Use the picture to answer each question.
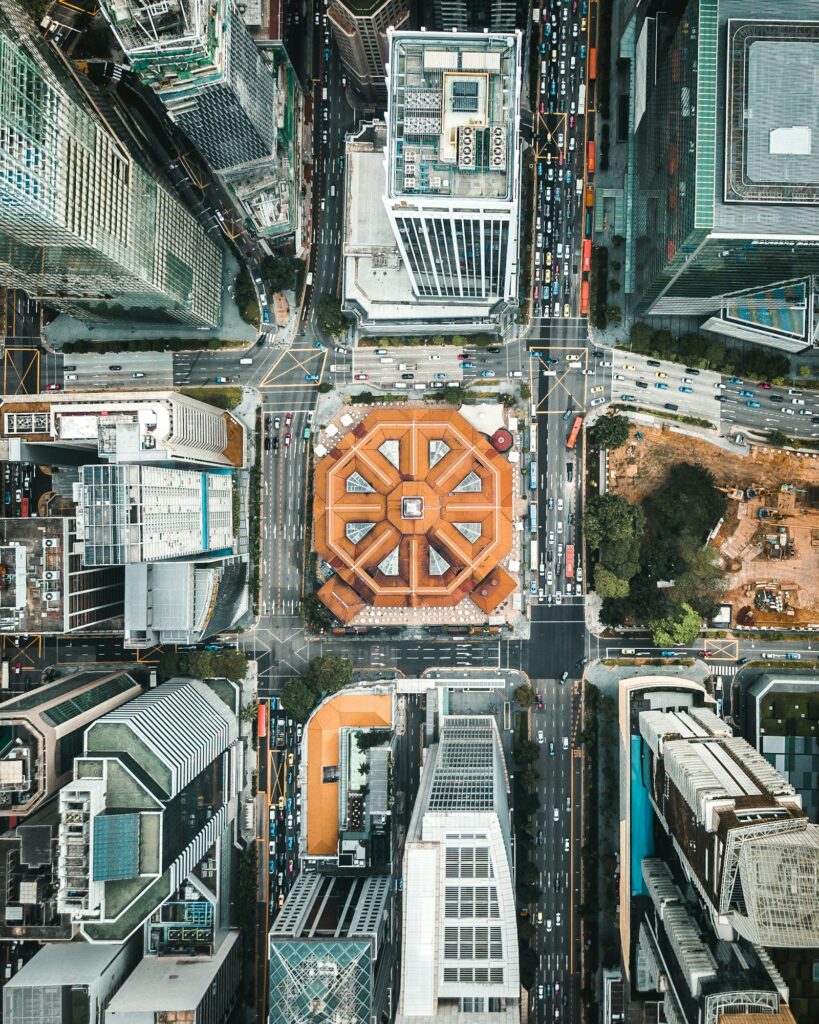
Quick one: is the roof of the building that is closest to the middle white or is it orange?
orange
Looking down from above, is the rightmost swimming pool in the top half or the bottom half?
top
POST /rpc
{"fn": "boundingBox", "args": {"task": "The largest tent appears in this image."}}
[458,403,504,434]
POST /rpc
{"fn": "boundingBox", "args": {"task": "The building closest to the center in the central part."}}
[314,409,511,606]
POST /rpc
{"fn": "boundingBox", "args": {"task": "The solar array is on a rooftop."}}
[104,811,139,880]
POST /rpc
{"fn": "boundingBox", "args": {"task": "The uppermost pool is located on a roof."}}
[728,284,804,336]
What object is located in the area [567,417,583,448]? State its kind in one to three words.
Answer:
vehicle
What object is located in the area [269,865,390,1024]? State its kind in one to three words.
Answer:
building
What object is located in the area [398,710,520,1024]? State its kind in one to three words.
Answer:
building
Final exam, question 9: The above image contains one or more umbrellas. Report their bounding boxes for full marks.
[340,414,354,428]
[324,423,339,437]
[508,419,518,429]
[489,616,504,625]
[513,520,524,531]
[507,560,519,572]
[513,593,521,608]
[314,444,327,457]
[508,451,519,462]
